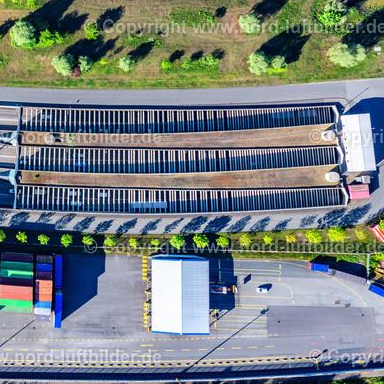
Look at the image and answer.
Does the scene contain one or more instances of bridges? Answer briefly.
No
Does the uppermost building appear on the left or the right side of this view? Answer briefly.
right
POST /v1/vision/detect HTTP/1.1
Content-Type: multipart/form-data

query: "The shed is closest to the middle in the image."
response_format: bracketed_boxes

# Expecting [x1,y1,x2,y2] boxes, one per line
[150,247,209,335]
